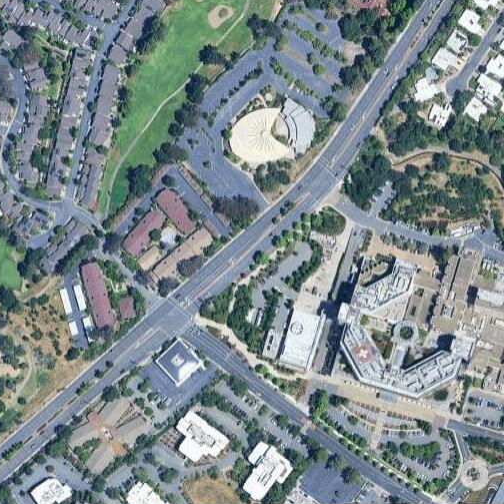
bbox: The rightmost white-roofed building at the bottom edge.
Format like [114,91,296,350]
[243,441,294,502]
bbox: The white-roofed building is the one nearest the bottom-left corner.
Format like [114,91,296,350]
[30,477,72,504]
